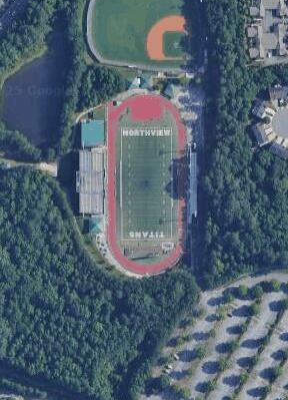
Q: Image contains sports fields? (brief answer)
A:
Yes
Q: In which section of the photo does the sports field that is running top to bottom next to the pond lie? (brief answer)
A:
center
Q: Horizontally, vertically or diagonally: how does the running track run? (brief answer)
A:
vertically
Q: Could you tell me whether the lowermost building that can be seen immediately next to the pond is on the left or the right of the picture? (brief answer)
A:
left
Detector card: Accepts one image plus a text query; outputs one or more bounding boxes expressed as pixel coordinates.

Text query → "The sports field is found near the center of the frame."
[116,109,179,267]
